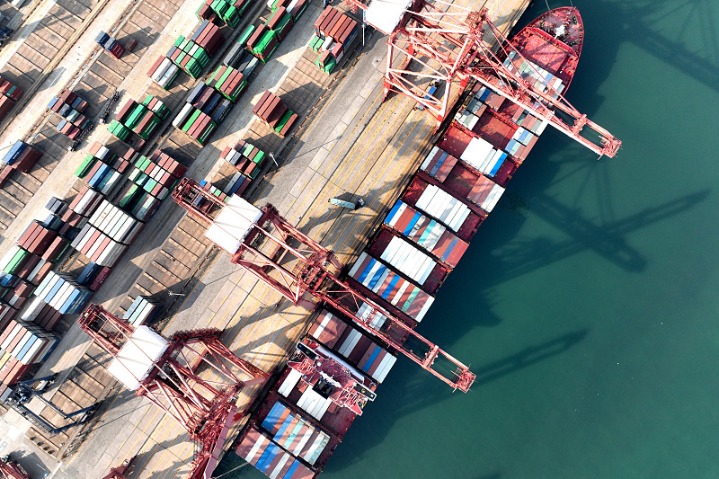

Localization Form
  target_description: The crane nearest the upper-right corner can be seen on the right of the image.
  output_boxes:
[337,0,628,161]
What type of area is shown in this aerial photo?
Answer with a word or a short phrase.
port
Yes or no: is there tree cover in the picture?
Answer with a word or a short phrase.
No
